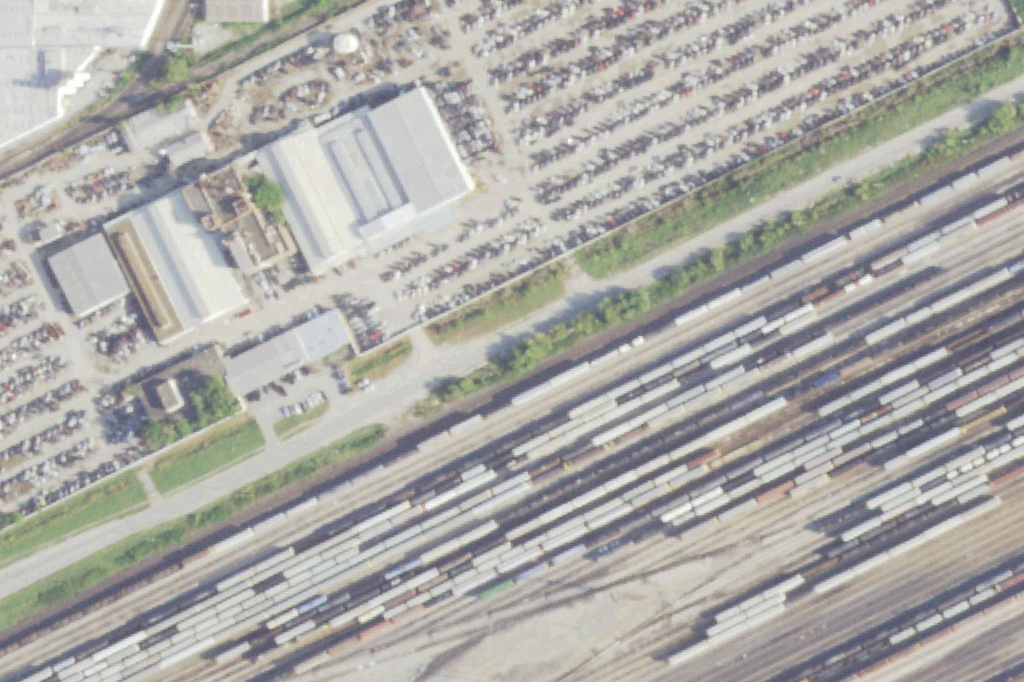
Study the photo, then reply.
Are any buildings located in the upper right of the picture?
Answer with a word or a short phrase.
No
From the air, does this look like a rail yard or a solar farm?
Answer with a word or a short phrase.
rail yard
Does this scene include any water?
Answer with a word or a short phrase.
No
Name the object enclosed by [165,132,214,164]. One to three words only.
building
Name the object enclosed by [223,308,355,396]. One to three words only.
building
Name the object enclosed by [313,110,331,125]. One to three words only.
vehicle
